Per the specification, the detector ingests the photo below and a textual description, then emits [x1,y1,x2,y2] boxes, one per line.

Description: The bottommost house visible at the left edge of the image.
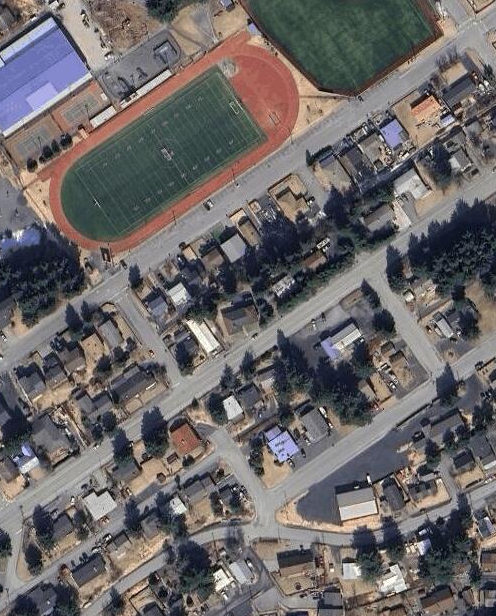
[21,583,60,616]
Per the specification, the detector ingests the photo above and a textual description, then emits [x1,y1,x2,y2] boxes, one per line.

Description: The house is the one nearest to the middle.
[216,290,262,337]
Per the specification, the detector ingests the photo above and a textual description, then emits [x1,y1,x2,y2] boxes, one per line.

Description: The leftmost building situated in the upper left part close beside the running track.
[0,20,92,138]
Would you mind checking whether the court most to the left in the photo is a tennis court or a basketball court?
basketball court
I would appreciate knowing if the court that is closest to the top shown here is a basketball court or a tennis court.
basketball court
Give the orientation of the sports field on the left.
diagonally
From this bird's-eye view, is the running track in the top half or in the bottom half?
top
